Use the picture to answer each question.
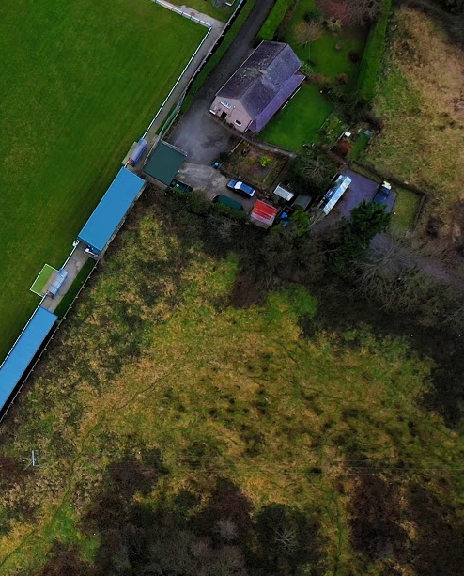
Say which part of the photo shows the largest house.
top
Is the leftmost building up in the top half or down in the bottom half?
top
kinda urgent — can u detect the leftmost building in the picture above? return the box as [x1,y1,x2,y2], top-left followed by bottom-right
[141,140,188,192]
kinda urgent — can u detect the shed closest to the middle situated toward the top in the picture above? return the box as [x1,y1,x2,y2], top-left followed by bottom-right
[250,201,278,228]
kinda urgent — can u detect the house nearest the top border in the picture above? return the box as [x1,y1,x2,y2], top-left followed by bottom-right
[210,40,307,136]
